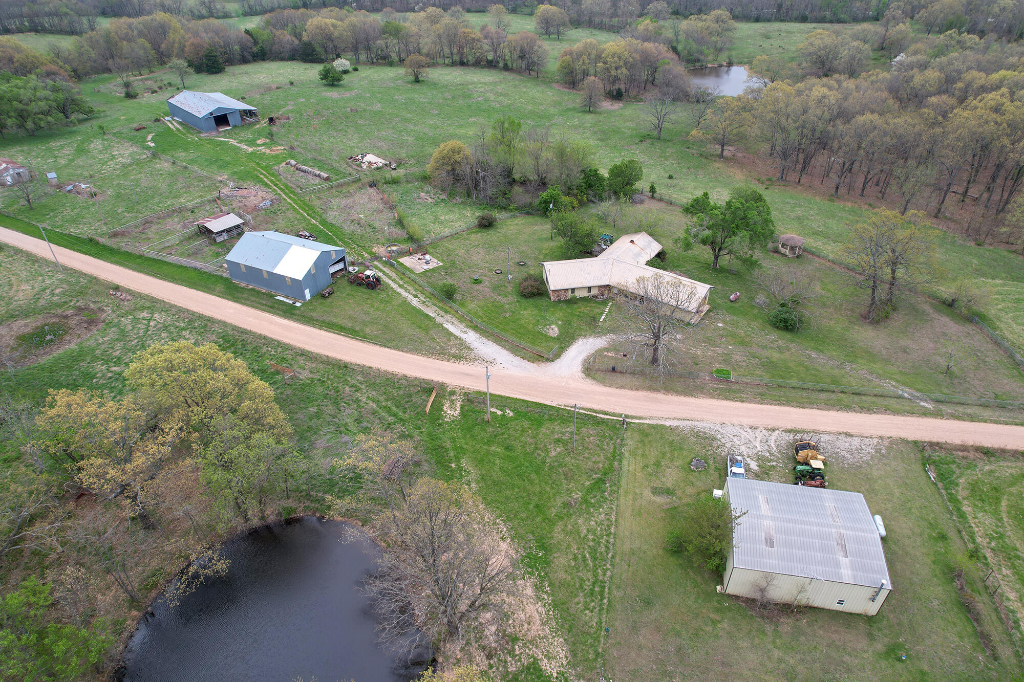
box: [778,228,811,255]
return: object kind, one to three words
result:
gazebo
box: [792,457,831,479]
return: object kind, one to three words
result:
work vehicle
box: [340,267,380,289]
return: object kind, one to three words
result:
work vehicle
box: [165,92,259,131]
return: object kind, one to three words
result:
barn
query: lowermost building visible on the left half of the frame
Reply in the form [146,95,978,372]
[225,231,346,301]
